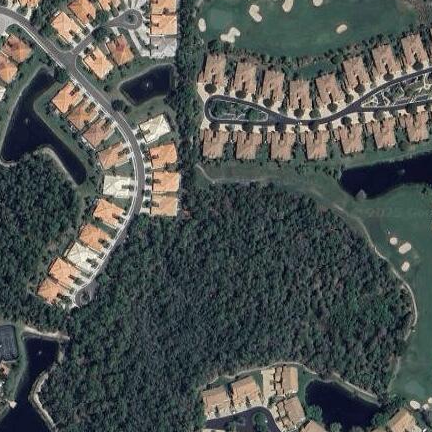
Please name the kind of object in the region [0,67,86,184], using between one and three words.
pond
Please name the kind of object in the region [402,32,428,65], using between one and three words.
house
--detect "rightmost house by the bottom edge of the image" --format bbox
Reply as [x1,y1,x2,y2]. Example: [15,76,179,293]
[384,409,418,432]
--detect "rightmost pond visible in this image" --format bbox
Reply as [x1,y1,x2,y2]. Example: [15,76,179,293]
[306,380,379,432]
